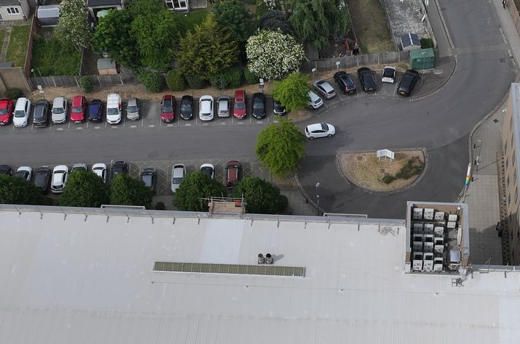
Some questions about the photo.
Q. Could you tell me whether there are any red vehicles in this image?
Yes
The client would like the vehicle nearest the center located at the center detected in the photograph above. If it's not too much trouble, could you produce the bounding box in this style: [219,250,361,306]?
[224,160,242,192]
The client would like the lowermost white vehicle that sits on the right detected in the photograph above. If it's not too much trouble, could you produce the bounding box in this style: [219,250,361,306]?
[303,123,337,141]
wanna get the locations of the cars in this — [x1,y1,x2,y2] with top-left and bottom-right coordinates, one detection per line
[303,123,337,141]
[49,166,72,195]
[85,97,107,125]
[310,76,339,104]
[93,158,110,179]
[108,157,131,186]
[198,94,216,124]
[168,162,188,193]
[67,93,90,125]
[230,89,249,121]
[16,158,37,176]
[395,69,420,99]
[70,157,91,175]
[380,66,397,87]
[158,94,178,123]
[308,90,329,115]
[0,158,16,175]
[224,160,242,192]
[123,95,143,124]
[49,94,72,126]
[177,93,195,124]
[34,163,56,196]
[250,91,267,123]
[357,67,377,97]
[10,97,34,128]
[31,99,52,128]
[333,69,358,98]
[216,99,232,120]
[270,93,288,121]
[0,99,15,127]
